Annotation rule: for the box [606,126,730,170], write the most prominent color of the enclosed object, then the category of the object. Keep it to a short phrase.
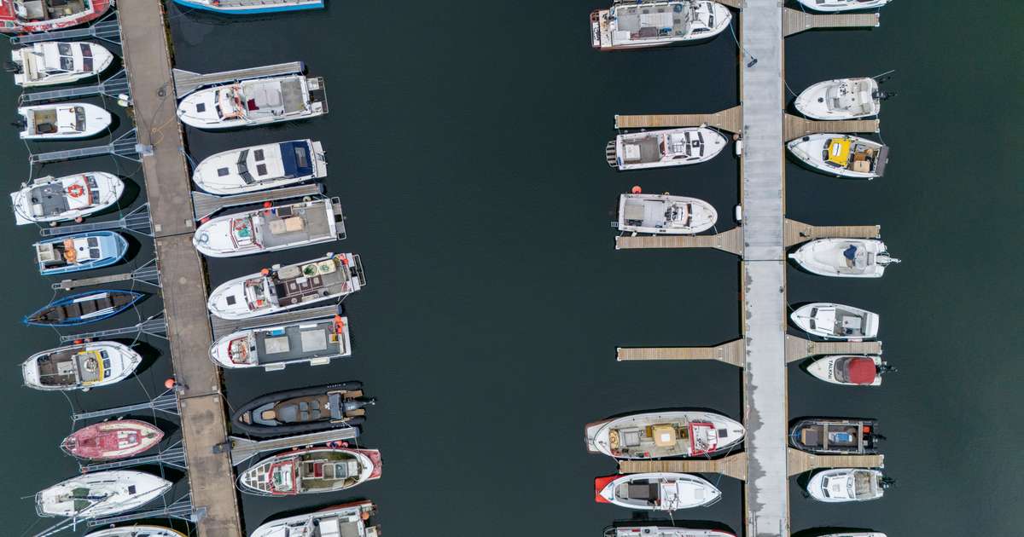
white boat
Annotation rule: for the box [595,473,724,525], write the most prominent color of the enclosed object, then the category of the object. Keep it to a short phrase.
white boat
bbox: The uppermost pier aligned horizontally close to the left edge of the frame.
[10,10,122,44]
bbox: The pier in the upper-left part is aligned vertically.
[116,0,195,236]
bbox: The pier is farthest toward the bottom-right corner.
[788,443,885,482]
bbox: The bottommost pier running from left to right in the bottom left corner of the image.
[89,494,193,528]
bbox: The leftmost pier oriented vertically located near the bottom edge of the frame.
[176,392,242,537]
